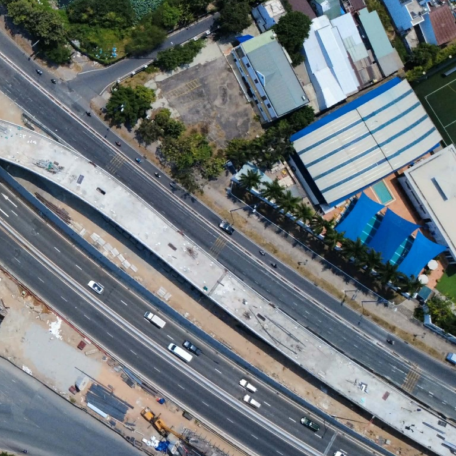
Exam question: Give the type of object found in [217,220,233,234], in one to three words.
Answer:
vehicle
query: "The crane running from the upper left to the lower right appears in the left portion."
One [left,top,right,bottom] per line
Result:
[135,400,187,447]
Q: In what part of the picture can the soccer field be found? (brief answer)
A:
top right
